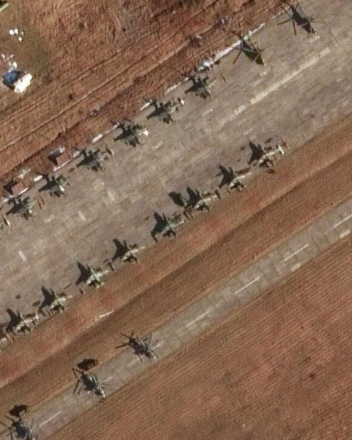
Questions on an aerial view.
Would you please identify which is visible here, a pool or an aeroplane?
aeroplane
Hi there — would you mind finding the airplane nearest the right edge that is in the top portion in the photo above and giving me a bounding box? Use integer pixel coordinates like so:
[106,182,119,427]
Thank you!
[253,144,280,167]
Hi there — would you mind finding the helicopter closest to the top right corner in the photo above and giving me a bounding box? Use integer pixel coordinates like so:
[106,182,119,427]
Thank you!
[285,3,326,39]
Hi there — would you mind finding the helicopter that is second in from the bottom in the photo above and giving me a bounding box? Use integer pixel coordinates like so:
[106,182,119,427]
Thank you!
[79,366,114,399]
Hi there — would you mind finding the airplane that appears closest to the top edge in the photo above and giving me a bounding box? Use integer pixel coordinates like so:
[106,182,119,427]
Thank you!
[192,78,218,102]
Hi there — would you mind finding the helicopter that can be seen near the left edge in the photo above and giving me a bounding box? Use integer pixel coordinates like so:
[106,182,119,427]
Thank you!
[9,417,44,440]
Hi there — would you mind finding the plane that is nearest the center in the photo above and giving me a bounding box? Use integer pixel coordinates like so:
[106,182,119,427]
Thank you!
[159,214,185,238]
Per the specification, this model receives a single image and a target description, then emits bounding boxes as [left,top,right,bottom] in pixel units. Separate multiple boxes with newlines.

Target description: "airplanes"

[11,310,38,333]
[119,241,145,264]
[159,214,185,238]
[83,263,110,287]
[12,196,38,222]
[192,78,218,102]
[253,144,280,167]
[190,190,217,213]
[121,121,148,146]
[226,167,251,190]
[46,290,72,313]
[44,173,70,197]
[83,147,110,173]
[156,101,181,125]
